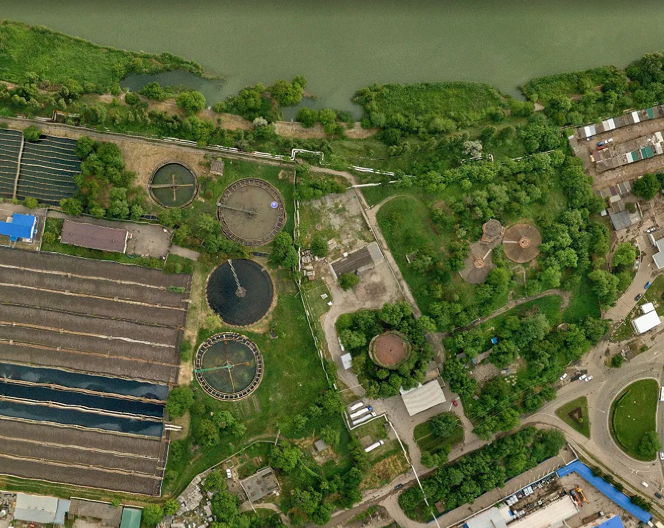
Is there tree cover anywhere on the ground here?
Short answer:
Yes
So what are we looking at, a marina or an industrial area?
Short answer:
industrial area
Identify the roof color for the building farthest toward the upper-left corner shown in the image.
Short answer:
blue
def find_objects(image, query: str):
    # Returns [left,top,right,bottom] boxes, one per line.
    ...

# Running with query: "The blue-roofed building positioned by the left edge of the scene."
[0,213,38,241]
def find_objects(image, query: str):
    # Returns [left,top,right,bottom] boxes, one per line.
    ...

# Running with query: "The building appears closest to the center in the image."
[331,242,383,278]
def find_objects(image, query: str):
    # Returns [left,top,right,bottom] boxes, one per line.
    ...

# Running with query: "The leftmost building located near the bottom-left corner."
[14,492,70,525]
